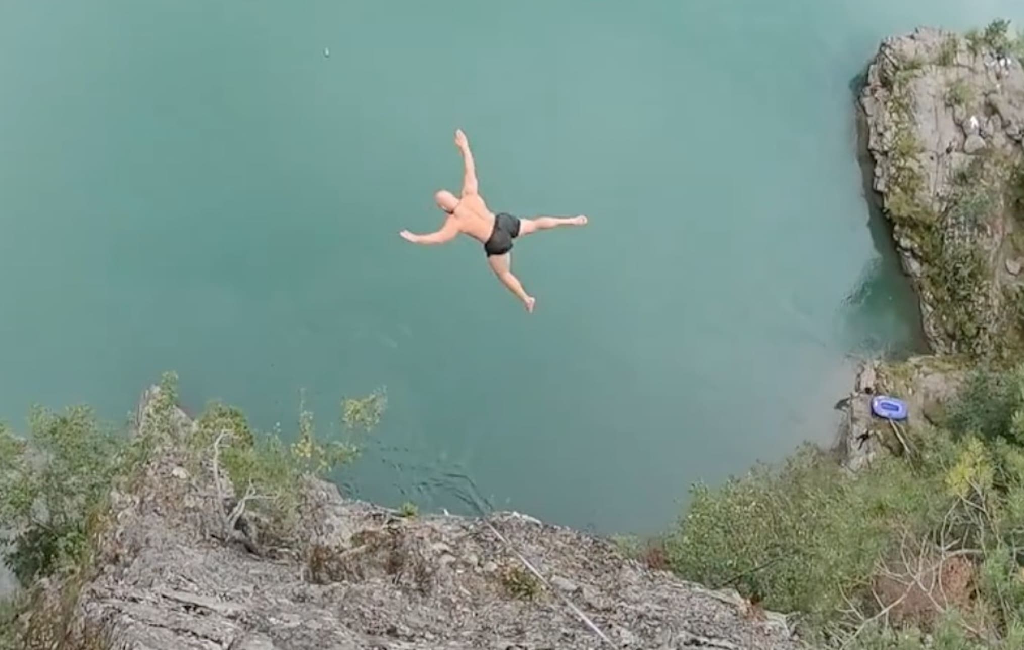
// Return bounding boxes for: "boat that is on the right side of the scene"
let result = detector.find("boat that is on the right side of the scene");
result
[874,395,913,420]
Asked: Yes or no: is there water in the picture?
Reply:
Yes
